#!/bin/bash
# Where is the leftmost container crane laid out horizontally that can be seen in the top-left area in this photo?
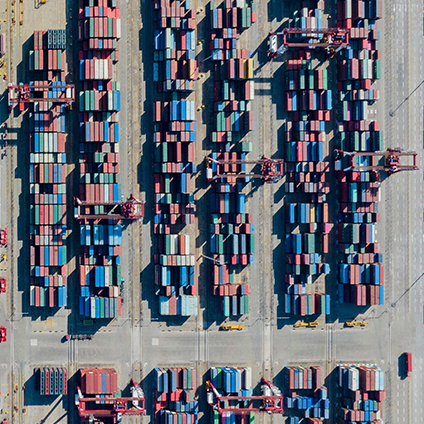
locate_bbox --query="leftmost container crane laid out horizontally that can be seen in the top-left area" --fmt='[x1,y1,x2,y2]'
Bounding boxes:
[4,84,76,110]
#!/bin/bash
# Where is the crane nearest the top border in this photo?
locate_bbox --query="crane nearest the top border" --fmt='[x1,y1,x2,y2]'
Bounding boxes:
[270,29,351,57]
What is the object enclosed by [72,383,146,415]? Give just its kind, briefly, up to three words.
container crane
